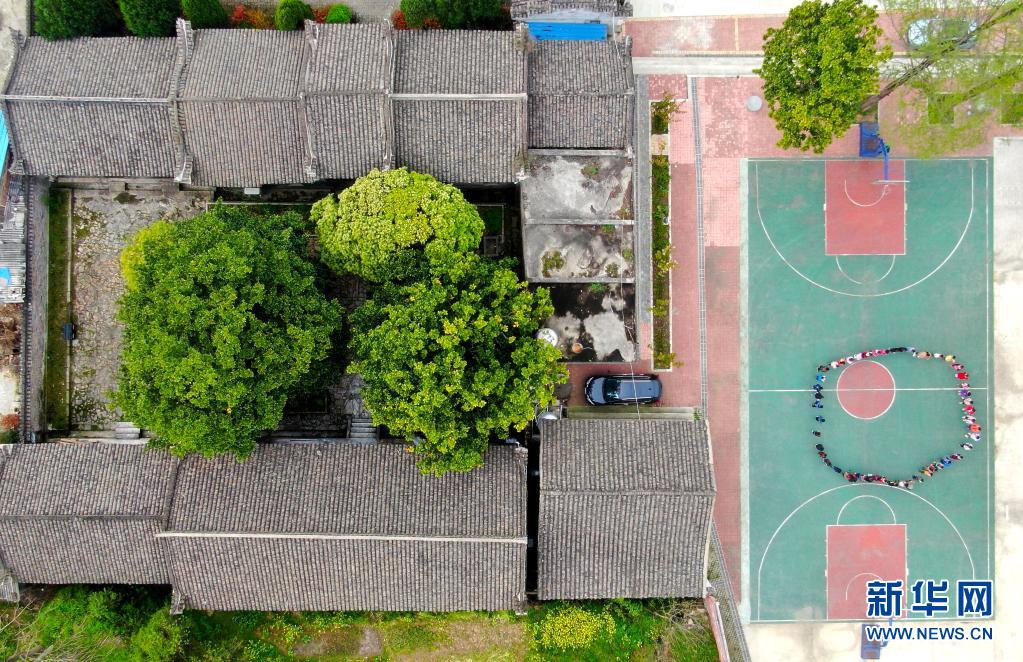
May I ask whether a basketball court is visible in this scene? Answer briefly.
Yes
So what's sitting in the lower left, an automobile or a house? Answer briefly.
house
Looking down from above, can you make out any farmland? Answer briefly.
No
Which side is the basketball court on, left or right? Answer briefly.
right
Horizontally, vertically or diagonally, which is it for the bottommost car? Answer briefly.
horizontally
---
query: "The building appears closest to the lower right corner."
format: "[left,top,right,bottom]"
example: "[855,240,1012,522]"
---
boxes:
[537,417,719,601]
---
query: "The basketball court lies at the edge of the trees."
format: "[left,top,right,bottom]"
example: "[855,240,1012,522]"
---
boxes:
[739,158,993,622]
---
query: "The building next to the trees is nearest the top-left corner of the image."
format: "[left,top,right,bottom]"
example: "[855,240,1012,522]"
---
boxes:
[0,27,182,188]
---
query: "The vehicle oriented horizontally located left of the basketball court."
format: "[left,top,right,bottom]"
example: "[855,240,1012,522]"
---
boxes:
[585,372,661,408]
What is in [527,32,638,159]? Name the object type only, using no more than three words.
house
